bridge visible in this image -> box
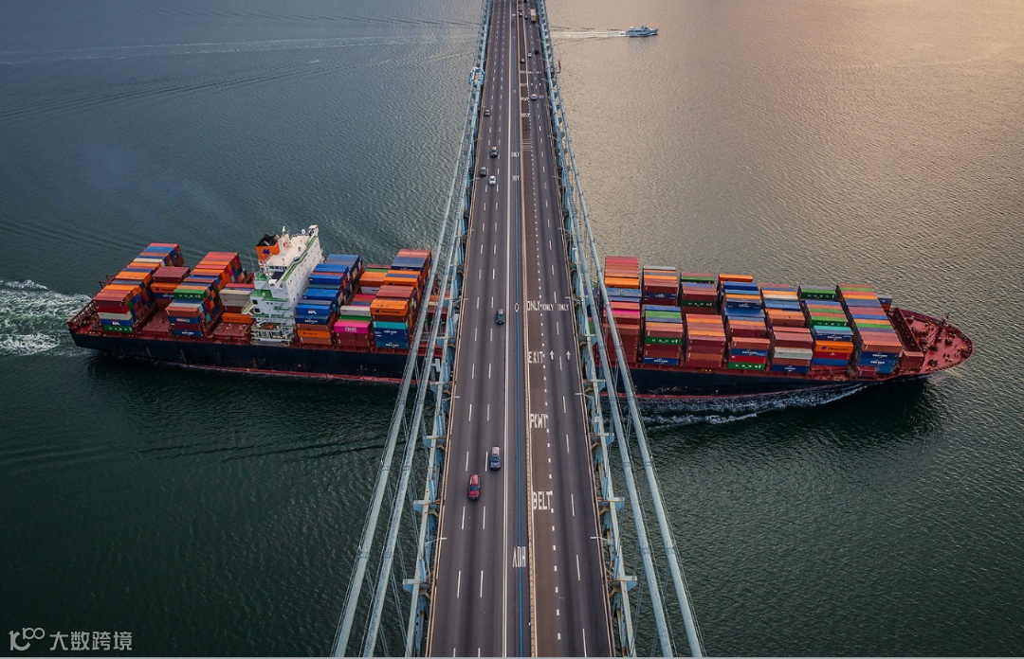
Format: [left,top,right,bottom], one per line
[323,0,714,659]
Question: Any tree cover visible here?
No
